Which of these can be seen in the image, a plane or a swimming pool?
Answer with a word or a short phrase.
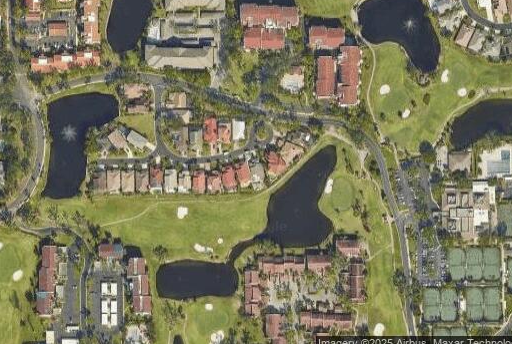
swimming pool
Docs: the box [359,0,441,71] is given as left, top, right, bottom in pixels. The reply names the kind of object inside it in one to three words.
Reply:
pond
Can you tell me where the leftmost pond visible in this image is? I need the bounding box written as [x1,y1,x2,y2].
[43,94,118,197]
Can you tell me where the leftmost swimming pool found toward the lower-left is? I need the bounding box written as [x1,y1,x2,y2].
[127,325,145,344]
